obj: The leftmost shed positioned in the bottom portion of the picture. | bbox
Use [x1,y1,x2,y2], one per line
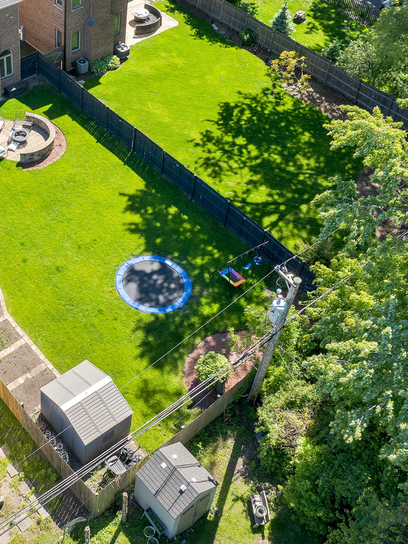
[41,361,134,464]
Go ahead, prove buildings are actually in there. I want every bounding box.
[41,361,134,464]
[19,0,127,65]
[136,443,218,537]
